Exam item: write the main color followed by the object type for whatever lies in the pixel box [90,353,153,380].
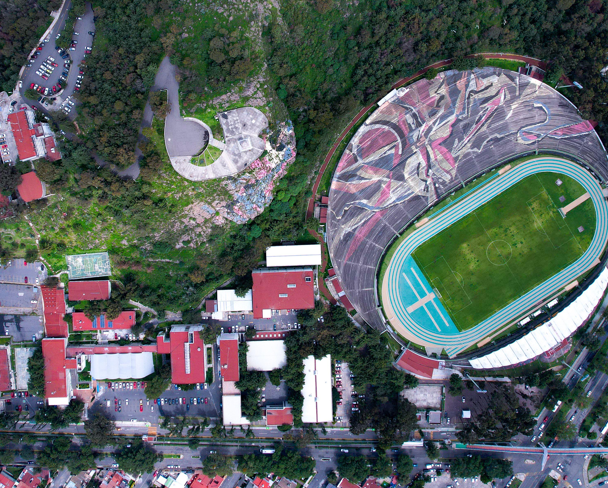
white tent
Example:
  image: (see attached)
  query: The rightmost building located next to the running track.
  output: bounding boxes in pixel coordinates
[395,346,445,379]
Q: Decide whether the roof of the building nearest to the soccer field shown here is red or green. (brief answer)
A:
red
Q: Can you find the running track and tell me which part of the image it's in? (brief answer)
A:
right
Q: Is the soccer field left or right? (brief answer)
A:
right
